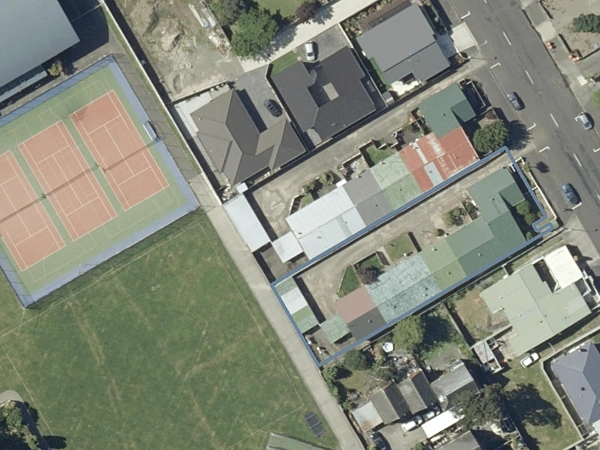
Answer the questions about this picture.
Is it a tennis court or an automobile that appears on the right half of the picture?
automobile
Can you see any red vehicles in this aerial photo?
No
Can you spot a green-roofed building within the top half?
No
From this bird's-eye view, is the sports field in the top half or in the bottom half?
bottom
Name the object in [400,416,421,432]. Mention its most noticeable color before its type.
white vehicle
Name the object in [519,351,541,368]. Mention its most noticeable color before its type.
white vehicle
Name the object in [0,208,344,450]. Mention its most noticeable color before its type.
green sports field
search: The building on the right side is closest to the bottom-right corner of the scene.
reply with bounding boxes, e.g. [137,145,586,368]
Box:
[551,339,600,431]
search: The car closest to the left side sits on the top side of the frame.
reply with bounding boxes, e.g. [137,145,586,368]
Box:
[265,97,281,118]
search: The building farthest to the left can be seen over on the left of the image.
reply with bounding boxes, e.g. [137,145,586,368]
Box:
[0,0,81,107]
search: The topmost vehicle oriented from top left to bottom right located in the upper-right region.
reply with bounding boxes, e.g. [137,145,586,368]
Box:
[507,90,524,111]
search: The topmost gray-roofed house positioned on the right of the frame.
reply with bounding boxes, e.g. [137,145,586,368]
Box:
[357,4,450,85]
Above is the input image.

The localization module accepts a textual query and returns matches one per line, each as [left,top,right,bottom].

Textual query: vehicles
[400,416,421,432]
[519,351,541,368]
[562,183,579,204]
[507,90,524,111]
[265,97,281,118]
[371,429,387,450]
[421,405,441,421]
[577,111,592,130]
[305,41,315,61]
